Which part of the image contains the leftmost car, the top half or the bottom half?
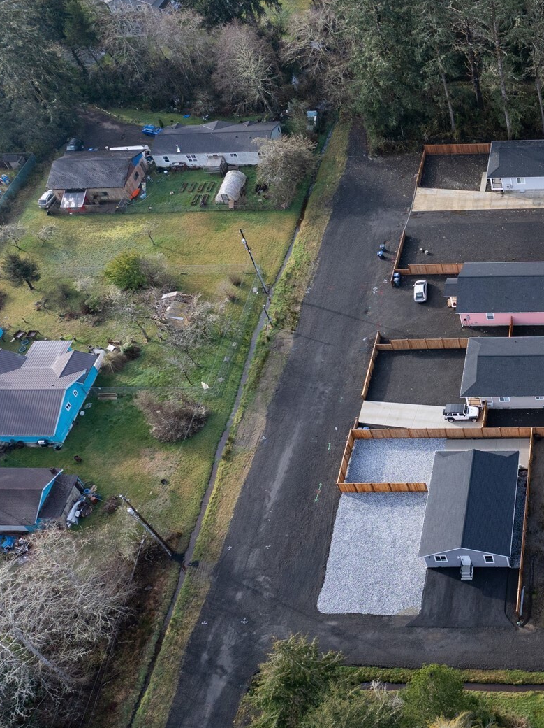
top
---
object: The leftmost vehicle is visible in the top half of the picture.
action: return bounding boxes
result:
[32,191,57,211]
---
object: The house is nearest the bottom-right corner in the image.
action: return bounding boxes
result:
[418,449,520,566]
